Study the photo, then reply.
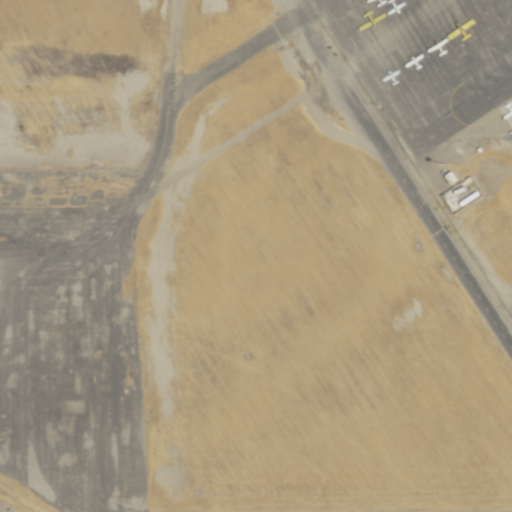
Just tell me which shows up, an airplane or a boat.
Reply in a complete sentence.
The image shows an airplane.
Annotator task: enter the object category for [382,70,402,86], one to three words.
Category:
airplane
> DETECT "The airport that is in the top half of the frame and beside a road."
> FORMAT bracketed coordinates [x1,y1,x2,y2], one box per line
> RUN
[170,0,512,360]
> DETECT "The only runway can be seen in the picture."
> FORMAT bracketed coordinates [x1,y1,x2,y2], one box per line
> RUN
[333,72,512,360]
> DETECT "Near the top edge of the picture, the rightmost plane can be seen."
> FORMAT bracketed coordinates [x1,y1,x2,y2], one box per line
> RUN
[447,19,476,41]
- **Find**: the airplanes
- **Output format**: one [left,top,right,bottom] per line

[502,102,512,118]
[382,70,402,86]
[447,19,476,41]
[388,0,407,16]
[404,54,424,70]
[359,10,387,30]
[428,38,449,57]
